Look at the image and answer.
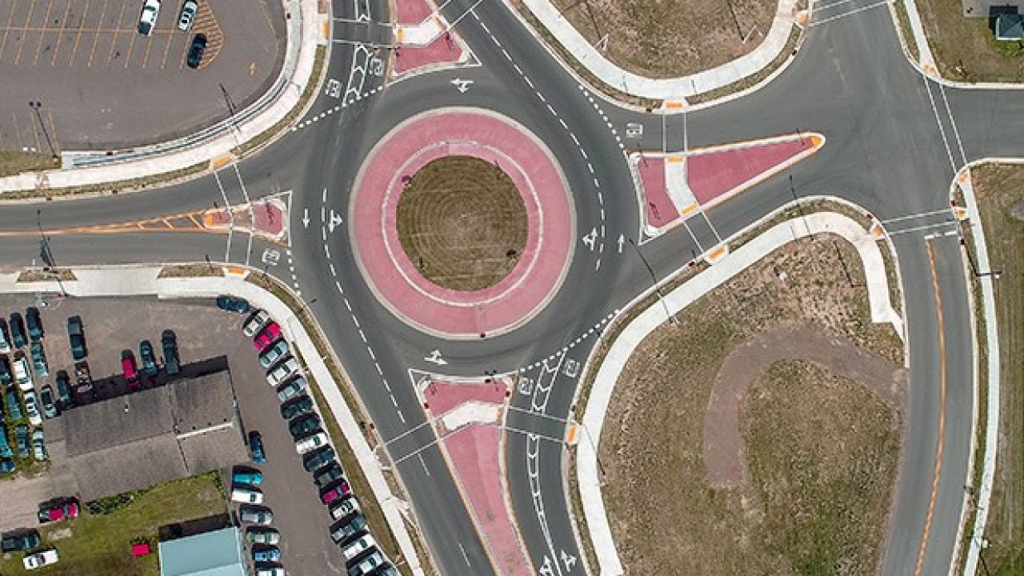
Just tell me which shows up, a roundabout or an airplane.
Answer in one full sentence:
Visible in the photo is a roundabout.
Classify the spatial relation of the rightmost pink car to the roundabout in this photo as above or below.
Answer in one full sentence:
It's below the roundabout that the rightmost pink car shows up.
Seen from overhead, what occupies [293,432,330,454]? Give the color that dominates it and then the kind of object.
white car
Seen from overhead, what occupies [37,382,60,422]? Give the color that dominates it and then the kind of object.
gray truck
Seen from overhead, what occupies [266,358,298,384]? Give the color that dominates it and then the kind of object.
white car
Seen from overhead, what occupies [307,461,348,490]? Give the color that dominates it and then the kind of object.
gray truck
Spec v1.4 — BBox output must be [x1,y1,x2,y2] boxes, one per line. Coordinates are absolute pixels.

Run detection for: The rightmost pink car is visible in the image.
[318,479,352,504]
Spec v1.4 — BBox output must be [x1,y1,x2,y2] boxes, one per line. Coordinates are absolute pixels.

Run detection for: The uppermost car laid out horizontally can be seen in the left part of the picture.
[216,295,249,313]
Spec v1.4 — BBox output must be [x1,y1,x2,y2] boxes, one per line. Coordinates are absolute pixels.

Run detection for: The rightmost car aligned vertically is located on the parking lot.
[247,431,265,463]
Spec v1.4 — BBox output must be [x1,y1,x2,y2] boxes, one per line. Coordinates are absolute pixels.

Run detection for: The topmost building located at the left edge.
[47,368,251,499]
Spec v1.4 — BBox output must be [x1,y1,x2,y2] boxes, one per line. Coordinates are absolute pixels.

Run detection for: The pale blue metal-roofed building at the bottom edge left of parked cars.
[158,524,251,576]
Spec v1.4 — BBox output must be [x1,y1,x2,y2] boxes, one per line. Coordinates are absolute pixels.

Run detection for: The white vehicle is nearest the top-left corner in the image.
[138,0,161,36]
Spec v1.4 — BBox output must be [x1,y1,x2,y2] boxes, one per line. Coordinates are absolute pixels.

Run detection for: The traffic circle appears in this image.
[308,66,619,380]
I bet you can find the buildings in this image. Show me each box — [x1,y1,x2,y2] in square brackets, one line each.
[47,368,251,499]
[158,524,251,576]
[993,14,1024,41]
